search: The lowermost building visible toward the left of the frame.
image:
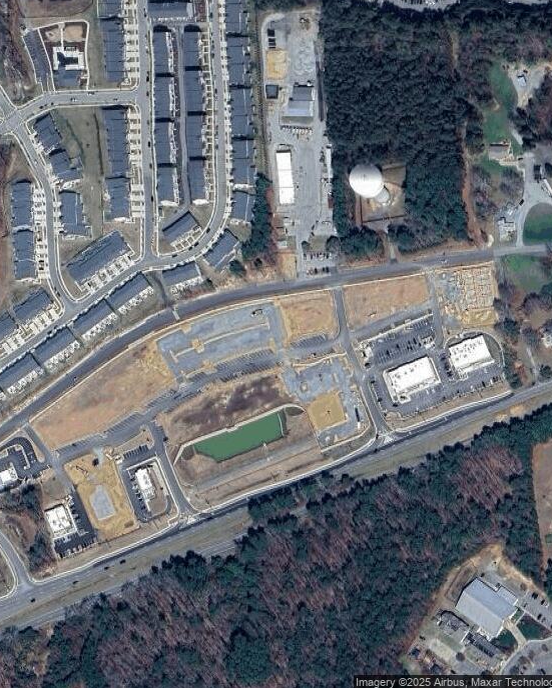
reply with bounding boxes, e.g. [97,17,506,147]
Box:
[46,506,75,539]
